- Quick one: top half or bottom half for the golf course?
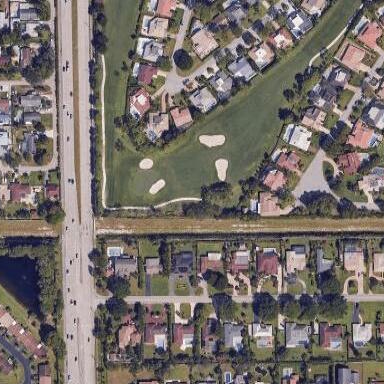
top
